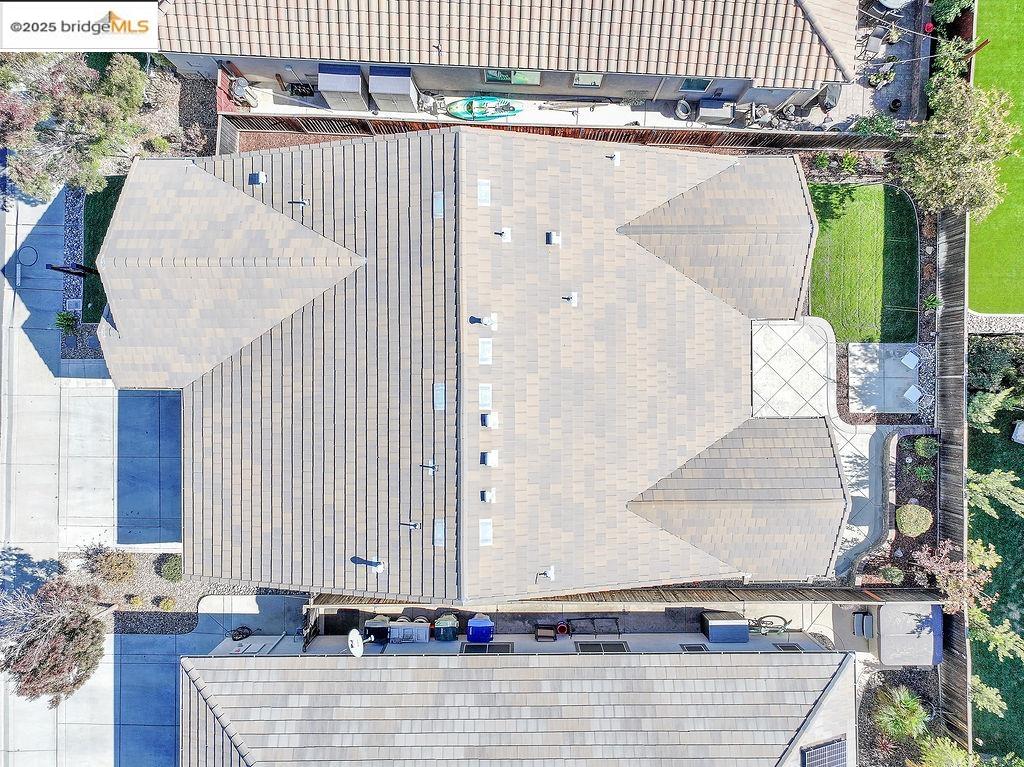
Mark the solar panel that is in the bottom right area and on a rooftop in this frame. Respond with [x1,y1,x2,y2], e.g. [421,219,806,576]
[808,732,844,767]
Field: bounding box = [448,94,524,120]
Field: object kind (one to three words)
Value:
boat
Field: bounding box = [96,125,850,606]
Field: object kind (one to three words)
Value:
house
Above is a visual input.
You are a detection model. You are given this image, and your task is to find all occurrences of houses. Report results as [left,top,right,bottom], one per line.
[121,0,862,118]
[96,125,850,606]
[177,632,858,767]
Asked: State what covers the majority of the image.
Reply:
buildings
